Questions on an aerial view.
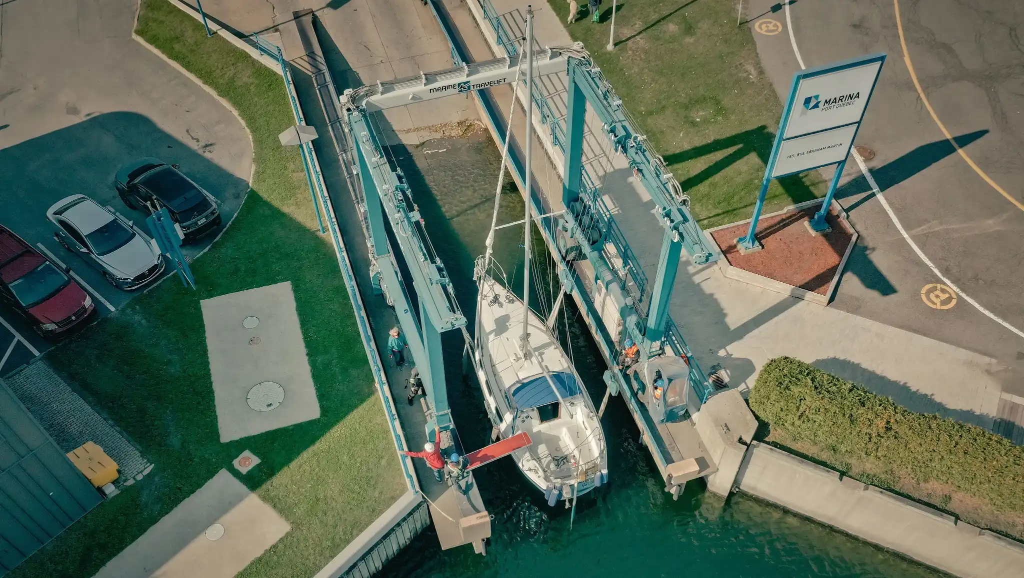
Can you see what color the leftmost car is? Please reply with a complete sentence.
In this view, the leftmost car is black.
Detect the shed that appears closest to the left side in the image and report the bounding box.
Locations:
[0,372,110,578]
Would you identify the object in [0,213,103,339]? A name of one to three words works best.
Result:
car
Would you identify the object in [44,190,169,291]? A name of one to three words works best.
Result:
car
